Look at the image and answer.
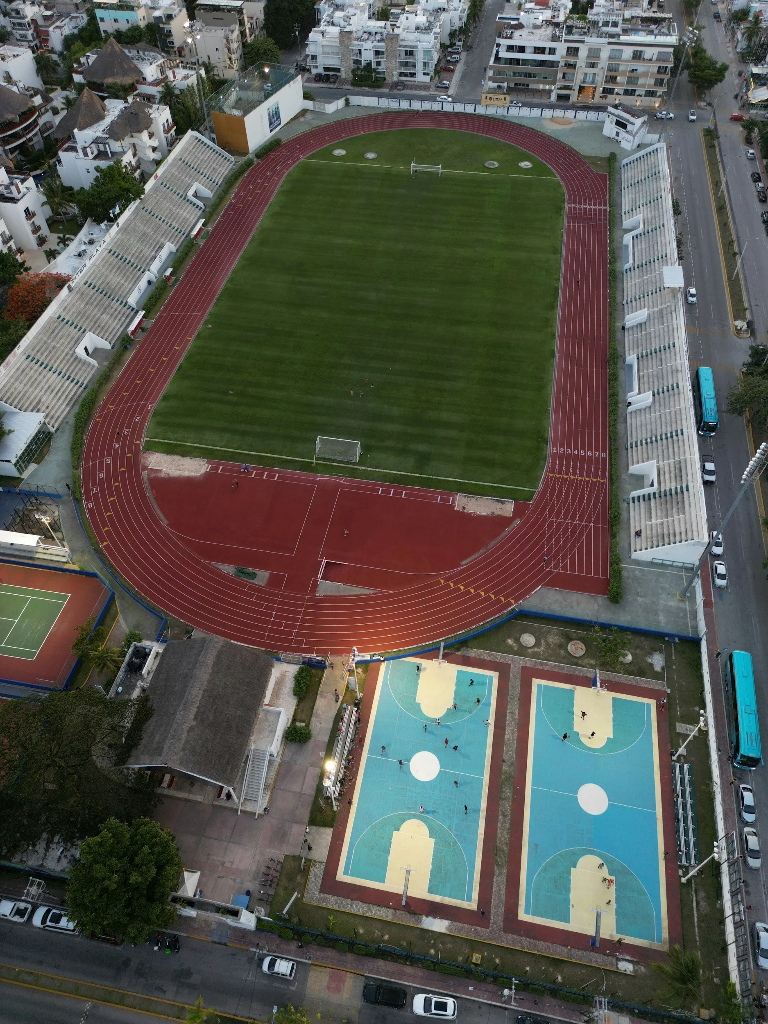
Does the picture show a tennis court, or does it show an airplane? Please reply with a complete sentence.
This aerial view contains a tennis court.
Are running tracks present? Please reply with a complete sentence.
Yes, there's a running track down there.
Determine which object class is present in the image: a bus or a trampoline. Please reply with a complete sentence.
This aerial view contains a bus.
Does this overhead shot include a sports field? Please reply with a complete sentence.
Yes, there's a sports field down there.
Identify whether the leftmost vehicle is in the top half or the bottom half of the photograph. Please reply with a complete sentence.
The bottom half of the photo is where the leftmost vehicle is.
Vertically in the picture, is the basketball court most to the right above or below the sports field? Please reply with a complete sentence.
It's below the sports field that the basketball court most to the right shows up.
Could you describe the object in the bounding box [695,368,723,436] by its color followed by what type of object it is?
blue bus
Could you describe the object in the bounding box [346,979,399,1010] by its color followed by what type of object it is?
black vehicle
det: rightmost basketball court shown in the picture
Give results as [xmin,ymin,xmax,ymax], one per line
[502,666,682,964]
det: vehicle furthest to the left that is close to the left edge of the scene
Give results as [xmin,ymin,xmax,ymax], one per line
[0,897,41,925]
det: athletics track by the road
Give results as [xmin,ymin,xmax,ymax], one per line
[80,111,610,656]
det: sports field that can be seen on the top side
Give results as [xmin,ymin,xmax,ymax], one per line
[143,128,566,502]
